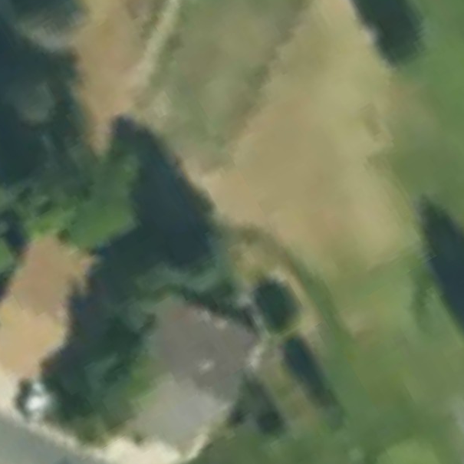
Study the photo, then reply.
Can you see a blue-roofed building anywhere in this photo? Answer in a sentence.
No, the frame has no blue-roofed building in it.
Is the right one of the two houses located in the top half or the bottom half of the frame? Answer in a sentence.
The right one of the two houses is in the bottom half of the image.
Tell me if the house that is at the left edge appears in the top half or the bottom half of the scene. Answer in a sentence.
Seen from above, the house that is at the left edge lies in the bottom half of the view.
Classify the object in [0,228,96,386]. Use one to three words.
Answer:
house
